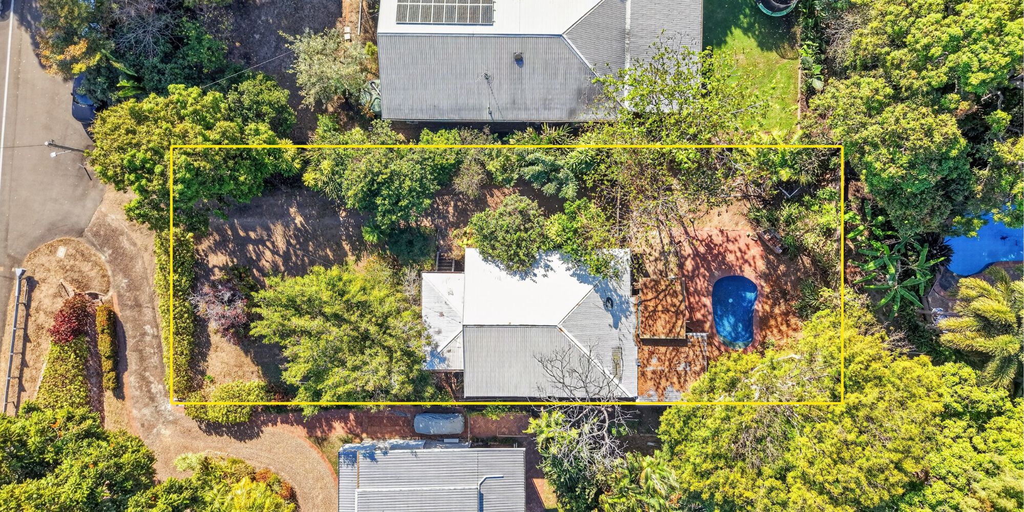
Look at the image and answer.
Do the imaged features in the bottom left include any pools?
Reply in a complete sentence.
No, I see no pool in the bottom left.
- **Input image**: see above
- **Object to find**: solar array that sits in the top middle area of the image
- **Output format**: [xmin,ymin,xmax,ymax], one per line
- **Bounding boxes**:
[396,0,496,23]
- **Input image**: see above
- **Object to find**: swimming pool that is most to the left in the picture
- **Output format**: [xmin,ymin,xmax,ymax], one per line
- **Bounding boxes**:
[707,270,763,355]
